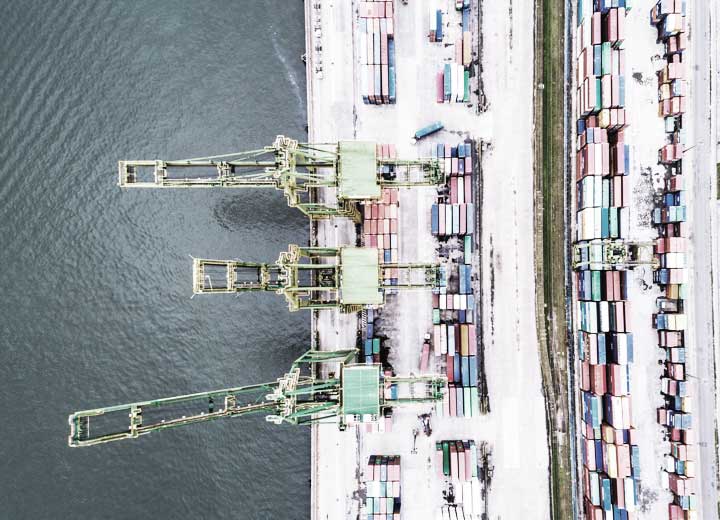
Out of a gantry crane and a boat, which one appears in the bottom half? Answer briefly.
gantry crane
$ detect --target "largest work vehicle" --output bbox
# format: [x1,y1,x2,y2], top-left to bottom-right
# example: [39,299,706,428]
[417,414,434,441]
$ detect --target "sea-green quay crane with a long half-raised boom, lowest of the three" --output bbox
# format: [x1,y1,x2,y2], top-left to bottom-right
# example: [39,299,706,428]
[67,335,451,450]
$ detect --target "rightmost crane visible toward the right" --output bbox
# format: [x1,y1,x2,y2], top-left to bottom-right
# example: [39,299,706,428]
[572,240,660,272]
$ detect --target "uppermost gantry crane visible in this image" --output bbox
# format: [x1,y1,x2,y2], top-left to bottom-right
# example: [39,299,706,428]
[117,133,451,232]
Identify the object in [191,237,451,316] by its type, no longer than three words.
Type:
container crane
